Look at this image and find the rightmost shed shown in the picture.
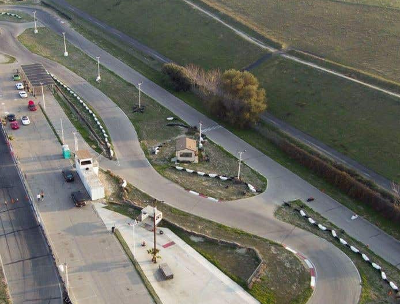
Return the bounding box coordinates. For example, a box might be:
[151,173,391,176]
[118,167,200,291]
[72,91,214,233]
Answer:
[173,138,199,164]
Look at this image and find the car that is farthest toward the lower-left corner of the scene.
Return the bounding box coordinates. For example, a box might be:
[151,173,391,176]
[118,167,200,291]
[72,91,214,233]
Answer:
[70,189,86,208]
